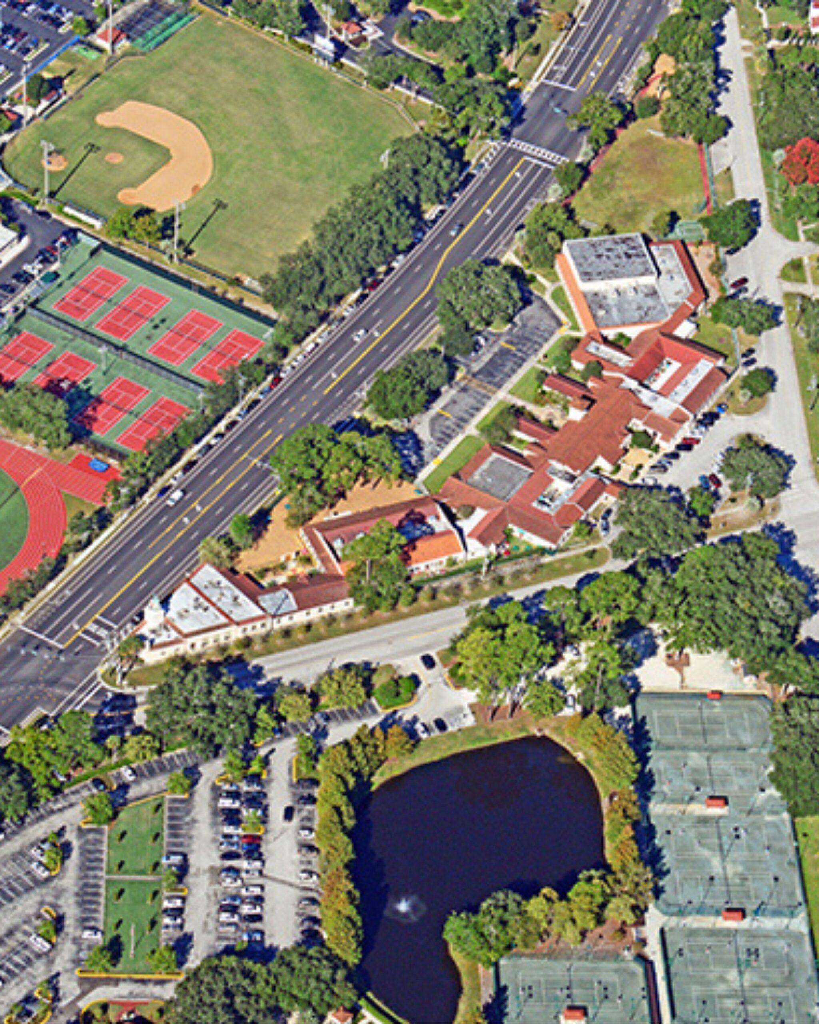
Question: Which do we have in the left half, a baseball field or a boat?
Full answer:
The one visible in the left half is a baseball field.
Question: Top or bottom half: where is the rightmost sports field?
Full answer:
It is in the top half that the rightmost sports field appears.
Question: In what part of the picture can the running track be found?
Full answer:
You can find the running track in the left area of the picture.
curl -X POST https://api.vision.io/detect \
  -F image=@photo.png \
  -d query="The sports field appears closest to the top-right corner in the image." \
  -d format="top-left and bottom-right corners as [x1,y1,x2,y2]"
[569,118,711,231]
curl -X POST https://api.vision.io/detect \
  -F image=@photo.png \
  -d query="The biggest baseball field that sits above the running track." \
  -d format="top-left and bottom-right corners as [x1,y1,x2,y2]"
[3,4,420,285]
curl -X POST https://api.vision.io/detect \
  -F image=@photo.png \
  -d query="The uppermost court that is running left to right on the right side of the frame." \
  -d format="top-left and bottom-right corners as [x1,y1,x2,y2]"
[667,220,704,240]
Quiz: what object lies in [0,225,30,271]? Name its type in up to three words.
building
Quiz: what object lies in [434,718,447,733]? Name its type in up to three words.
vehicle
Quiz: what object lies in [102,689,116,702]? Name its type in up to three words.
vehicle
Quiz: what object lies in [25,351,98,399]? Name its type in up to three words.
tennis court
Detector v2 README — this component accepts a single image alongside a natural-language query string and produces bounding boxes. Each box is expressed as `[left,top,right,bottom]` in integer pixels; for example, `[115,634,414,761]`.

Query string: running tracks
[0,439,114,595]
